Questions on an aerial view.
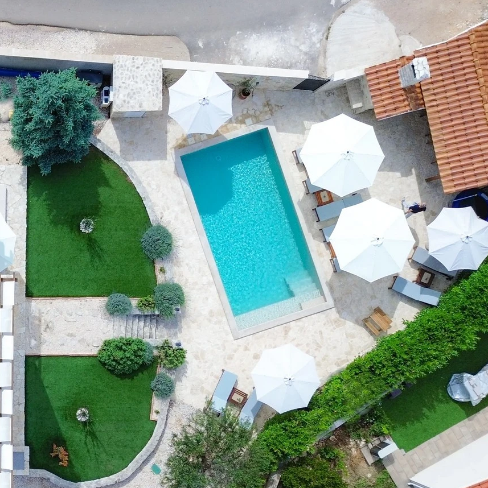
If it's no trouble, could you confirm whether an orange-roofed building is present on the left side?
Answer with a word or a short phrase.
No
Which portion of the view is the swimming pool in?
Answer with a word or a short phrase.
center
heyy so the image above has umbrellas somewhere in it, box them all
[299,111,387,199]
[419,206,488,272]
[0,216,20,270]
[329,196,416,284]
[254,347,319,411]
[169,69,234,135]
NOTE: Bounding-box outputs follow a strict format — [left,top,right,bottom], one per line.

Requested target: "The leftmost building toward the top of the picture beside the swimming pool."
[108,57,162,124]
